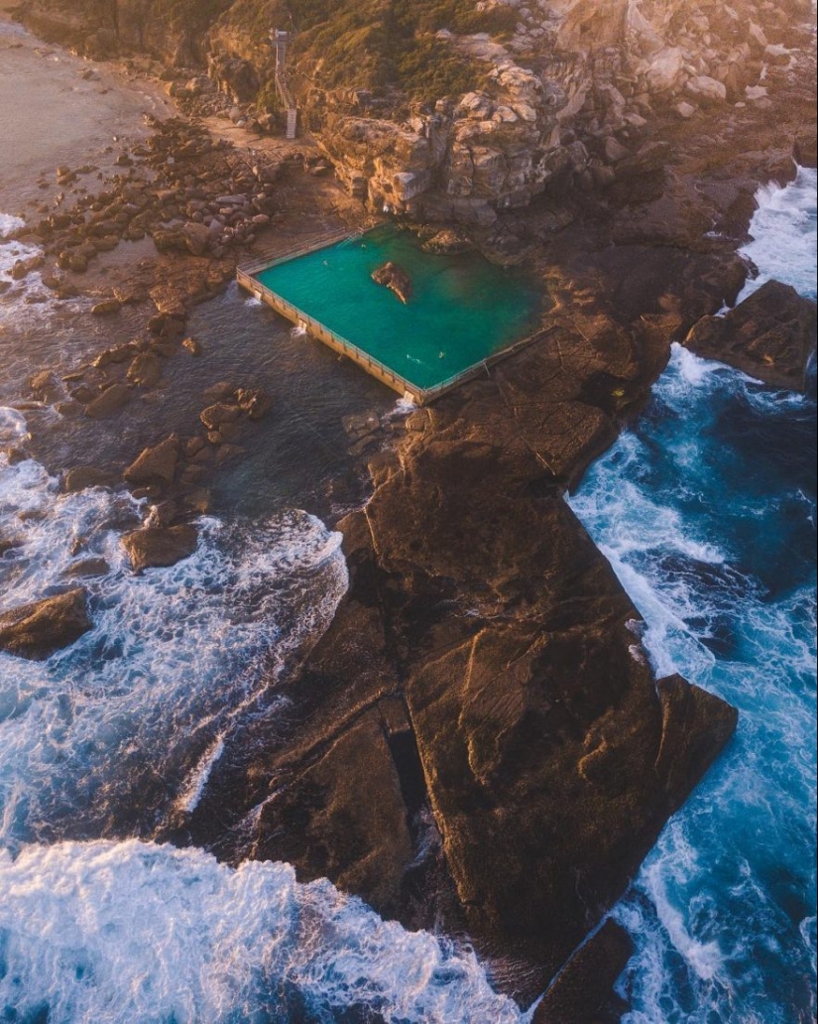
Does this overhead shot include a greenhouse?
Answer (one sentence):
No, this view has no greenhouse in it.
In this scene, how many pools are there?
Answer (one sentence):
The picture shows just 1 pool.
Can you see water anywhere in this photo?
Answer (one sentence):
Yes, water shows up in the scene.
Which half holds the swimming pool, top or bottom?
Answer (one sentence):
The swimming pool is in the top half of the image.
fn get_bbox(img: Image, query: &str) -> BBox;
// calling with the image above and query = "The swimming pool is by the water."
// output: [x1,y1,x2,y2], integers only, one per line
[254,224,540,398]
